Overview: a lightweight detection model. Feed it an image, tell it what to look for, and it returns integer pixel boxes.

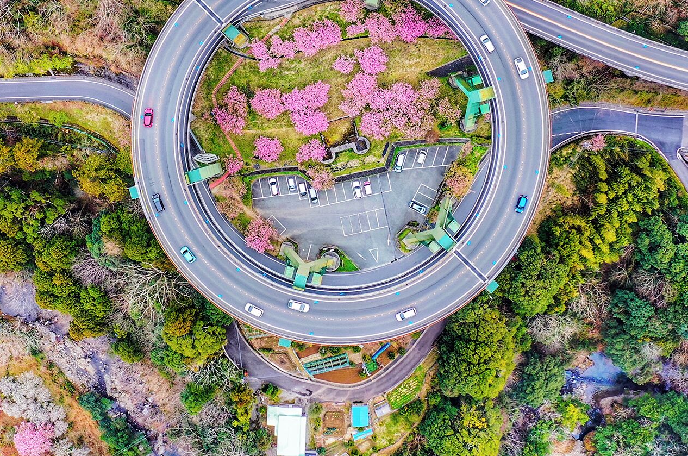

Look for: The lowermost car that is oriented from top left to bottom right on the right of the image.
[408,200,426,215]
